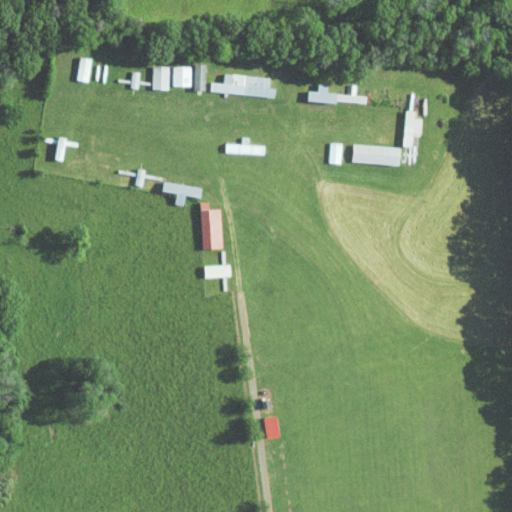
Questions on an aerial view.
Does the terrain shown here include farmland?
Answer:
Yes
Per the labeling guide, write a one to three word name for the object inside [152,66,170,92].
hangar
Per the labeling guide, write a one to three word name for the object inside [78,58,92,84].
shed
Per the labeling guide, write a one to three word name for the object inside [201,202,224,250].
barn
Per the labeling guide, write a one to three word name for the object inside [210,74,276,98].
hangar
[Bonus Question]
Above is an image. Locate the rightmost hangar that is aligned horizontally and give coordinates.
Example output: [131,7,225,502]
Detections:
[352,144,402,166]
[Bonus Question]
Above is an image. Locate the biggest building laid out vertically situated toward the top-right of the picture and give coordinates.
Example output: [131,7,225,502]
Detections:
[404,92,424,148]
